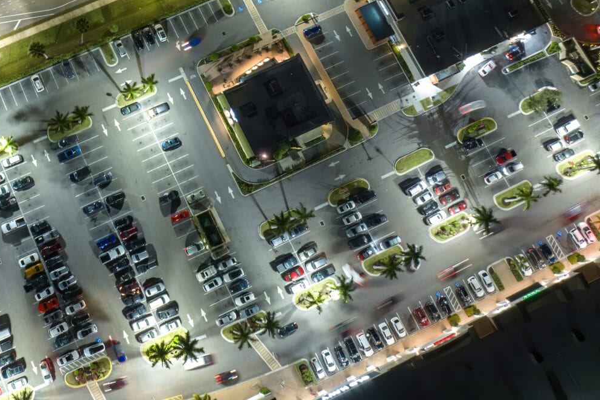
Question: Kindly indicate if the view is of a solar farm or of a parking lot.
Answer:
parking lot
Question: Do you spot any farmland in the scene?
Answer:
No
